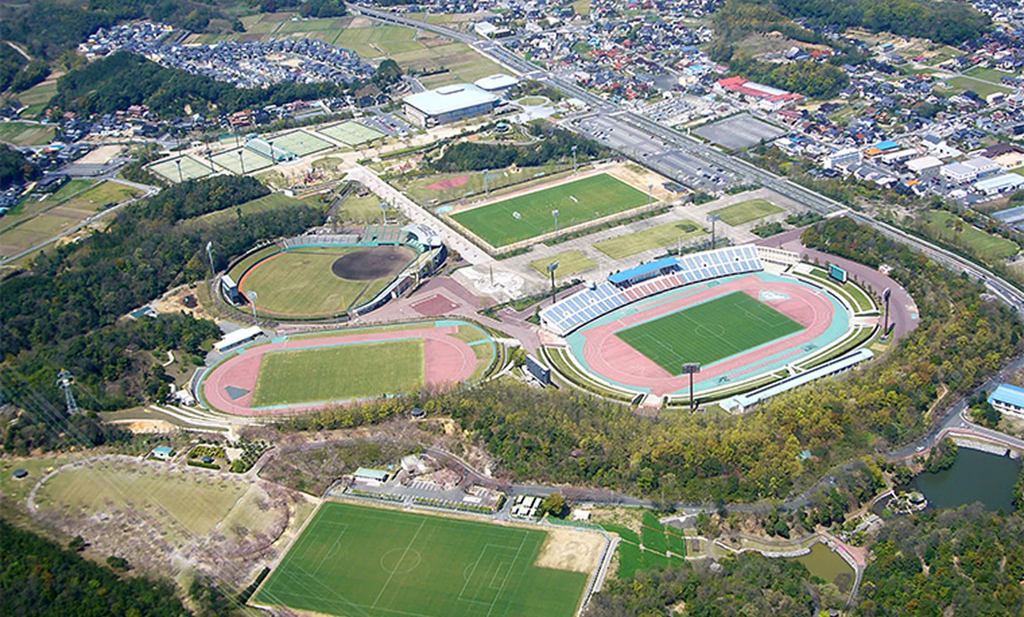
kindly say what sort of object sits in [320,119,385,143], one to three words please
tennis court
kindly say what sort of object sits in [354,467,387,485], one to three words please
building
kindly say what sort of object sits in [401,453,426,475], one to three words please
house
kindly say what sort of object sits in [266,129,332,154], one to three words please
tennis court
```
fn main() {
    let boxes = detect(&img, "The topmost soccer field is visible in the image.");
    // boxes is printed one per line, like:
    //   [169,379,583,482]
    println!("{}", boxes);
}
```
[451,171,659,247]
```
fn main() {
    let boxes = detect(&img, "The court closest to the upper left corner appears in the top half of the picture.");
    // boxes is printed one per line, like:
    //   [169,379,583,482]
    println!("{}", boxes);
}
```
[150,154,214,180]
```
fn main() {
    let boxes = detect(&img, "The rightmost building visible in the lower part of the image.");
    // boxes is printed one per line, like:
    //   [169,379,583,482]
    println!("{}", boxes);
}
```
[988,383,1024,422]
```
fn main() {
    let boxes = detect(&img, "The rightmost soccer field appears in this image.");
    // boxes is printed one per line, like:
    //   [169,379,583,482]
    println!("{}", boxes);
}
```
[613,289,806,374]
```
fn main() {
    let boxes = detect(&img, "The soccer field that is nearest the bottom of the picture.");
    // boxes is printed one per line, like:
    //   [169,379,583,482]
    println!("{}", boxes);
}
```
[254,501,588,617]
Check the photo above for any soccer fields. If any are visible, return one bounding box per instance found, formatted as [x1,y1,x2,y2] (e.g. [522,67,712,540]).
[613,289,806,374]
[251,337,426,406]
[254,501,588,617]
[451,171,659,247]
